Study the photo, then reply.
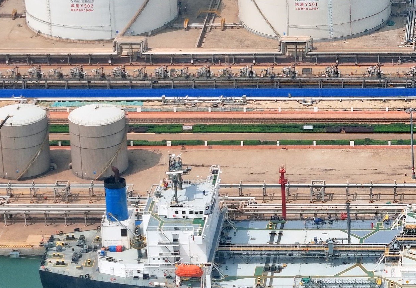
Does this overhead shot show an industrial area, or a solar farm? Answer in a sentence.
It's an industrial area.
